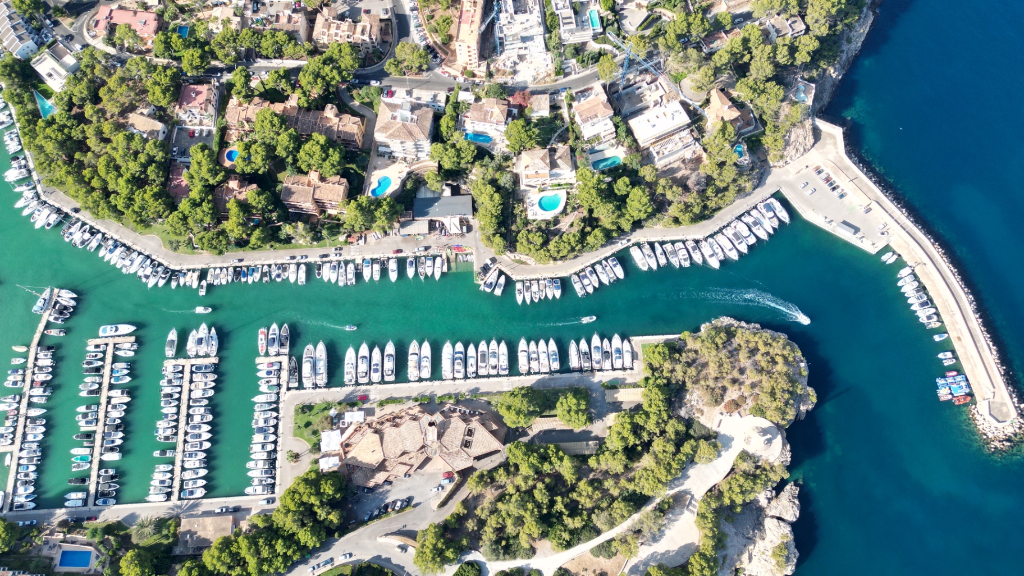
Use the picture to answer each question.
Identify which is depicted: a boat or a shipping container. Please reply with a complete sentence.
The one in the frame is a boat.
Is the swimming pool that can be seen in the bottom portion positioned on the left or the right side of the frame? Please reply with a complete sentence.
It is on the left.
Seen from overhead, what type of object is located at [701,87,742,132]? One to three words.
house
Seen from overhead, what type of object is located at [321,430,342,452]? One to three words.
tent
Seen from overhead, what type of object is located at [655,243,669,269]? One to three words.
boat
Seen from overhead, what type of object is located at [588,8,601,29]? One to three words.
swimming pool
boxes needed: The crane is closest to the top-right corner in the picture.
[610,30,709,129]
